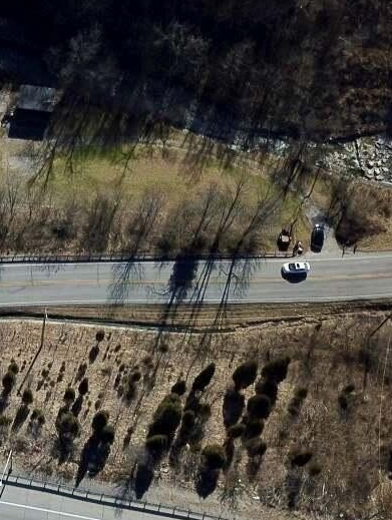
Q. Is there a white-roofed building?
No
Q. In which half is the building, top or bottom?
top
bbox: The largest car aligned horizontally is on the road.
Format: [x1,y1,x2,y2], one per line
[280,261,312,275]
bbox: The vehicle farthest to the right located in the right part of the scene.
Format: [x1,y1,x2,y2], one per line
[311,225,326,249]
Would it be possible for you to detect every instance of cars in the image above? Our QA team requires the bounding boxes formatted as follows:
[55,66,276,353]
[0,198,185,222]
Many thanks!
[311,225,326,249]
[280,261,312,275]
